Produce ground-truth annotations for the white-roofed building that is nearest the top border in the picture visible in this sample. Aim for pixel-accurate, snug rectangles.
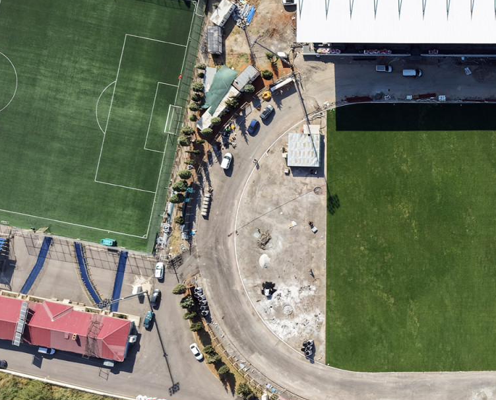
[210,0,236,27]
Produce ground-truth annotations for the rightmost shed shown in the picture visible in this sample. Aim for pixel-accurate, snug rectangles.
[288,133,323,167]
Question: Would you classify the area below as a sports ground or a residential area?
sports ground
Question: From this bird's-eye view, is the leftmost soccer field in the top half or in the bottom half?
top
